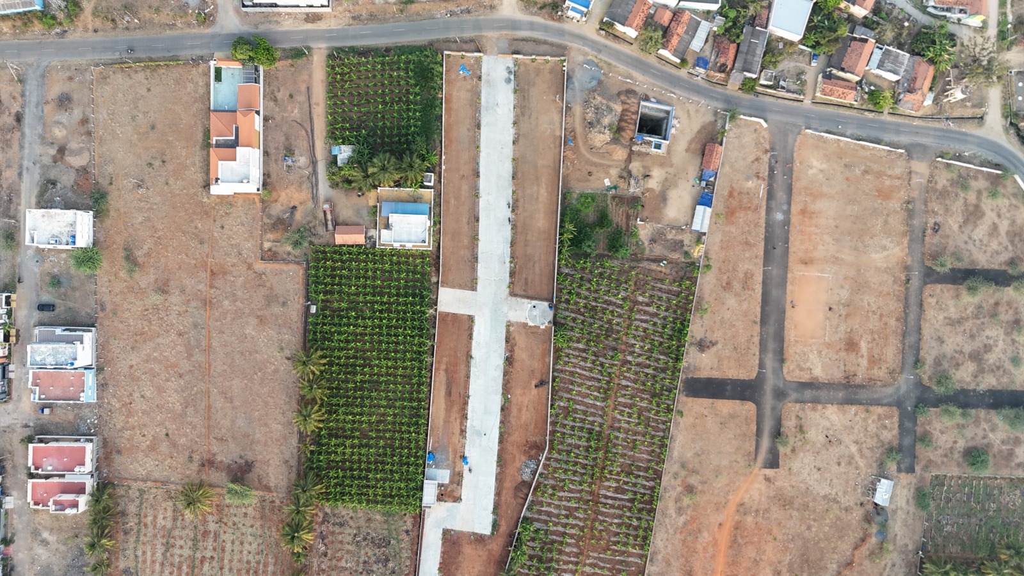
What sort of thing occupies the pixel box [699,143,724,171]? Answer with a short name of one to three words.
shed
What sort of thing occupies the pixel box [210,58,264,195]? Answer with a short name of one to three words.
house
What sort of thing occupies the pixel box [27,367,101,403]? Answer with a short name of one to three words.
house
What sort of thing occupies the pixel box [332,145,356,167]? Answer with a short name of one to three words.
shed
